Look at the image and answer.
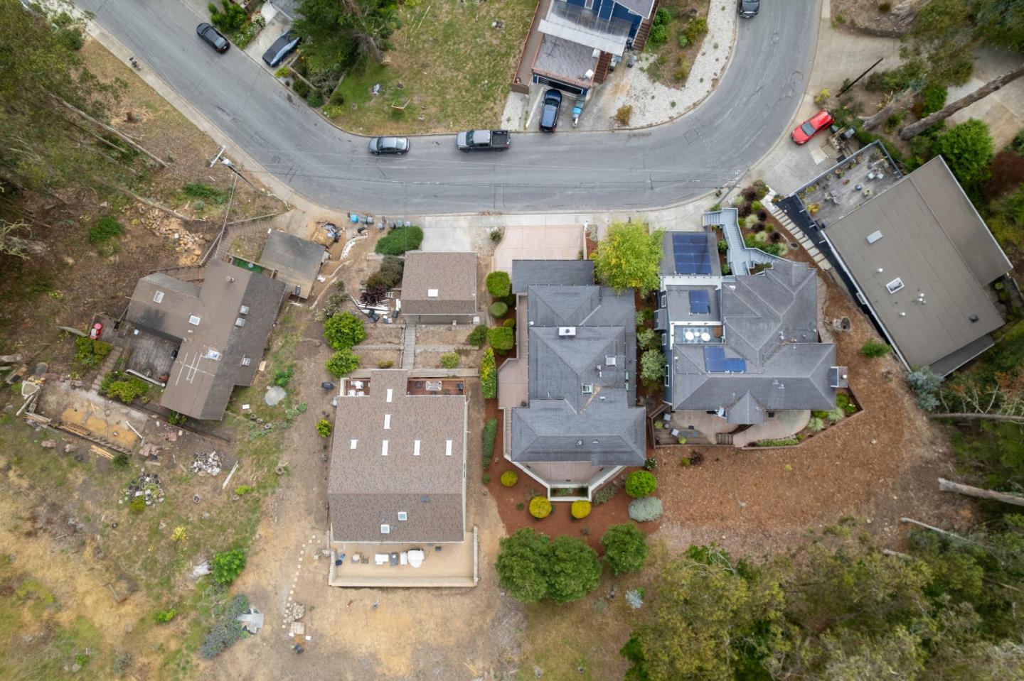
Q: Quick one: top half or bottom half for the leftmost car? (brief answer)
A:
top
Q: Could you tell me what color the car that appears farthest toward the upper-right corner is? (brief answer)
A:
red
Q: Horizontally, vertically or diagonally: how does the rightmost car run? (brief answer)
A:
diagonally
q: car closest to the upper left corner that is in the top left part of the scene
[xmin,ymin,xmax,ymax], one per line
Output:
[192,18,230,54]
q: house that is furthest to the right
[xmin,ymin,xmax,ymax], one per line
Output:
[783,139,1015,378]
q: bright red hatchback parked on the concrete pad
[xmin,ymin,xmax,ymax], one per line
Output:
[794,108,836,142]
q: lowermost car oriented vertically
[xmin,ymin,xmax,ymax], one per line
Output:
[542,87,562,131]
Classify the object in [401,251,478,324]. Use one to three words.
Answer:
building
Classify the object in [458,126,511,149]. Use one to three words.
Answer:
truck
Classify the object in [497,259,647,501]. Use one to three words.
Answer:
house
